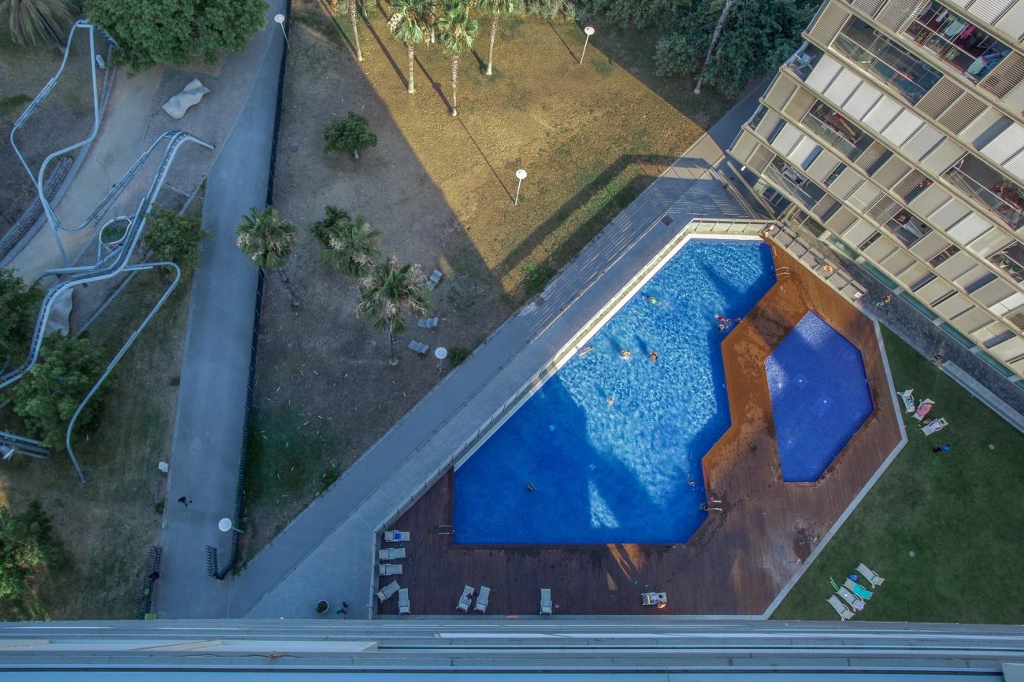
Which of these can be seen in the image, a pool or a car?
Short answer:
pool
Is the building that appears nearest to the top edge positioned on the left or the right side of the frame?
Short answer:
right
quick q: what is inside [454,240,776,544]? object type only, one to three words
swimming pool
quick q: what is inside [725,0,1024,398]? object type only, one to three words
building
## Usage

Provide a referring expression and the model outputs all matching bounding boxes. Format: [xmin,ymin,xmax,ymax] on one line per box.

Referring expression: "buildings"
[0,619,1024,682]
[725,0,1024,398]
